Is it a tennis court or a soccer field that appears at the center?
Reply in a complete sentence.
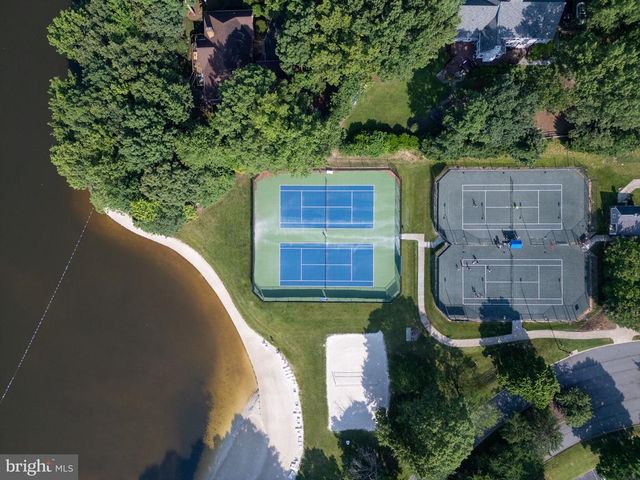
The one visible at the center is a tennis court.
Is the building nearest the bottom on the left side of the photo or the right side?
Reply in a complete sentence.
It is on the right.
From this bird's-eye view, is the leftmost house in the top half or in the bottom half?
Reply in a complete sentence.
The leftmost house is in the top half of the image.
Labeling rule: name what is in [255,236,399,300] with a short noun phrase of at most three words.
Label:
tennis court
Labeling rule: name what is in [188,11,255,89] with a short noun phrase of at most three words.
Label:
house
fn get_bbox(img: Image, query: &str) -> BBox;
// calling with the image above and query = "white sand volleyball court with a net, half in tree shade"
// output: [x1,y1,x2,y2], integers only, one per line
[325,331,389,432]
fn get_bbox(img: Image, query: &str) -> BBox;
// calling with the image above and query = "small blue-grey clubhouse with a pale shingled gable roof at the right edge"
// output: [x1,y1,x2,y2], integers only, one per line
[612,206,640,234]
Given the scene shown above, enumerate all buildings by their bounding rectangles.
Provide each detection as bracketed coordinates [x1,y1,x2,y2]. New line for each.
[446,0,566,67]
[188,11,255,89]
[612,206,640,234]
